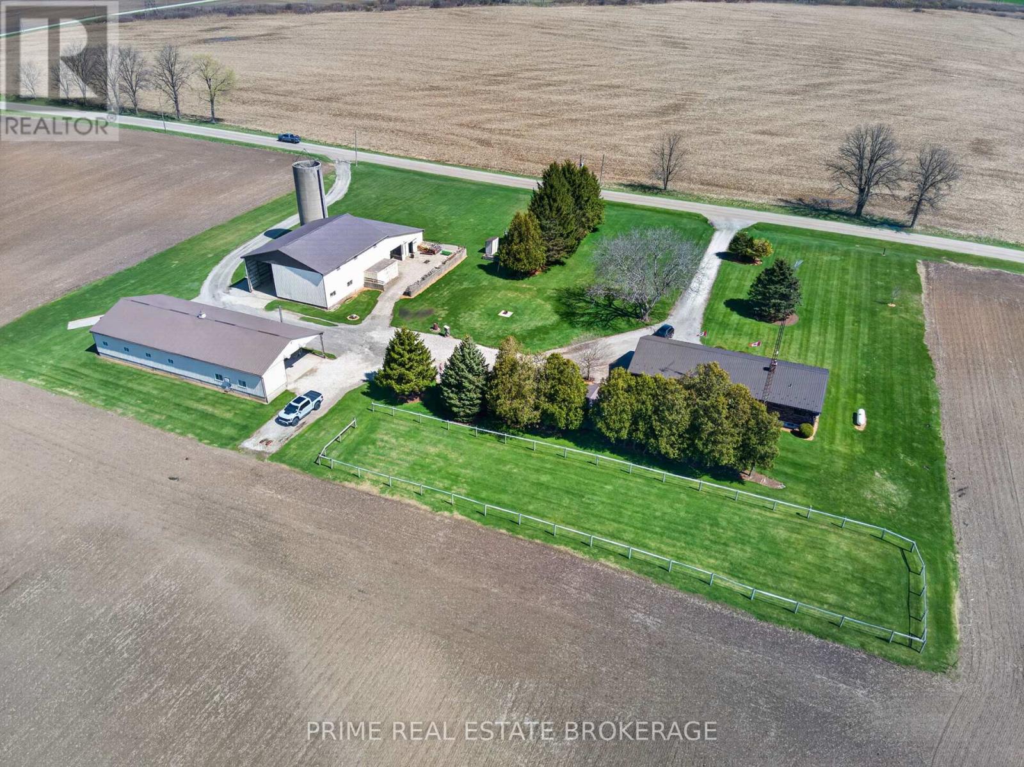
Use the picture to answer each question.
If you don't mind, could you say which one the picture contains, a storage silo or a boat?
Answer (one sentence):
Looking from above, you can make out a storage silo.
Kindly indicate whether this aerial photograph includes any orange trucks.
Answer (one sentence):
No, the photo shows no orange truck.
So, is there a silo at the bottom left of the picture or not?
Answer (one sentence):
No, at the bottom left of the picture there is no silo.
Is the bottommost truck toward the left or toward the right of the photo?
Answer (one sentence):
It is on the left.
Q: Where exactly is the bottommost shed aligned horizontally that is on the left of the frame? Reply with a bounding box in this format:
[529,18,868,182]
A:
[86,293,325,404]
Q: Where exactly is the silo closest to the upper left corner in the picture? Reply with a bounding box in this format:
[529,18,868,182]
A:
[292,150,328,226]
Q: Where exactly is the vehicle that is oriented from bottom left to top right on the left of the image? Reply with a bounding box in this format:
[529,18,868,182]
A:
[274,391,323,427]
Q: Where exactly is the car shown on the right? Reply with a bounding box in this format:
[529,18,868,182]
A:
[652,323,676,340]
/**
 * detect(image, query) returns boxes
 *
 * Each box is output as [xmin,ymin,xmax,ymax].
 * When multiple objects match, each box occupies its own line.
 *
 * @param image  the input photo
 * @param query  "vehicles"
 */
[275,131,300,142]
[274,391,323,427]
[652,323,676,340]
